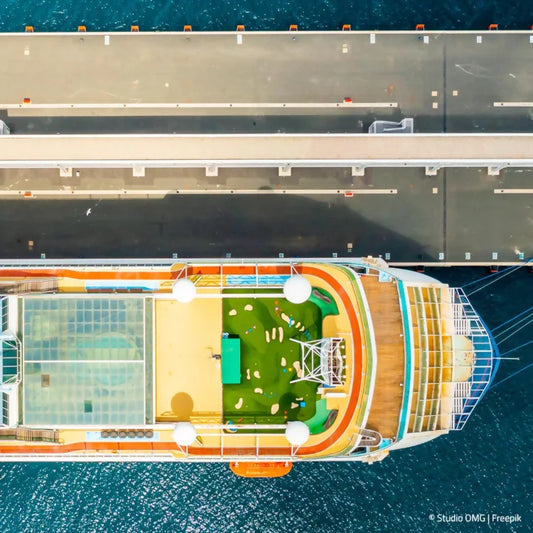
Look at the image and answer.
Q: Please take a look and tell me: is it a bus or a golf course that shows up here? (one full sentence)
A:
This aerial view contains a golf course.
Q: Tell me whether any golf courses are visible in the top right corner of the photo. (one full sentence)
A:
No, there's no golf course to be seen in the top right corner of the photo.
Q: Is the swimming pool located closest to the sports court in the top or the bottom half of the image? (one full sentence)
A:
The swimming pool located closest to the sports court sits in the bottom half of the picture.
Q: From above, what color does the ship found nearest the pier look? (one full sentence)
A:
The ship found nearest the pier is white.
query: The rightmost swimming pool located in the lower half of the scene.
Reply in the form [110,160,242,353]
[70,336,142,385]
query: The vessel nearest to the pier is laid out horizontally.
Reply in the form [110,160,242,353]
[0,252,521,473]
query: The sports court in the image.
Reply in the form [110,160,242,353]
[155,289,223,423]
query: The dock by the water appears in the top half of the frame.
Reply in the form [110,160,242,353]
[0,24,533,273]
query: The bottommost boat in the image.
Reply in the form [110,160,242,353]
[228,461,293,479]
